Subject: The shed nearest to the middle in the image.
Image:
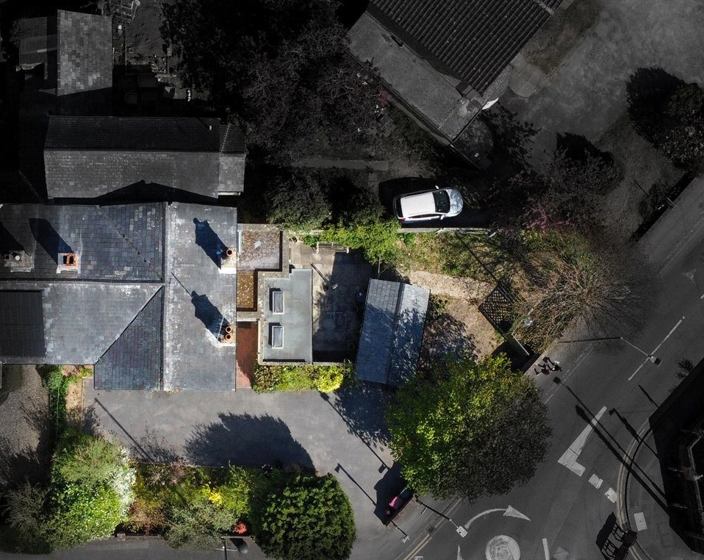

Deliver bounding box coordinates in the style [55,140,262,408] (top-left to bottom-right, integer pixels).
[354,281,430,388]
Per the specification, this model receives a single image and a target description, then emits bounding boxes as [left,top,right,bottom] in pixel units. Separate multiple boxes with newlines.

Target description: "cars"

[378,477,428,526]
[388,189,462,228]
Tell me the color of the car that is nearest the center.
white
